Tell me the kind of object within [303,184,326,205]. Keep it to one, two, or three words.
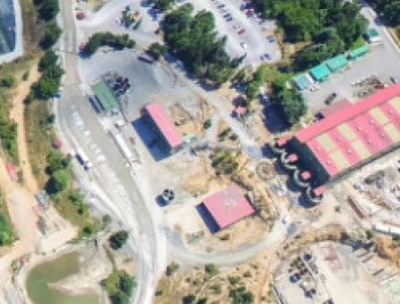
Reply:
silo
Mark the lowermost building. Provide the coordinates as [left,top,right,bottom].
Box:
[204,182,253,231]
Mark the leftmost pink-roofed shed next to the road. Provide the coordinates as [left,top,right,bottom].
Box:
[147,102,183,151]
